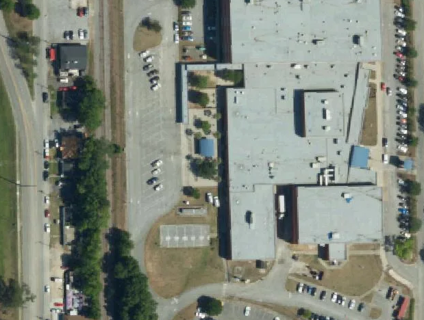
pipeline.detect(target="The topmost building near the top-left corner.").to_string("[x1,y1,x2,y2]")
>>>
[57,45,87,70]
